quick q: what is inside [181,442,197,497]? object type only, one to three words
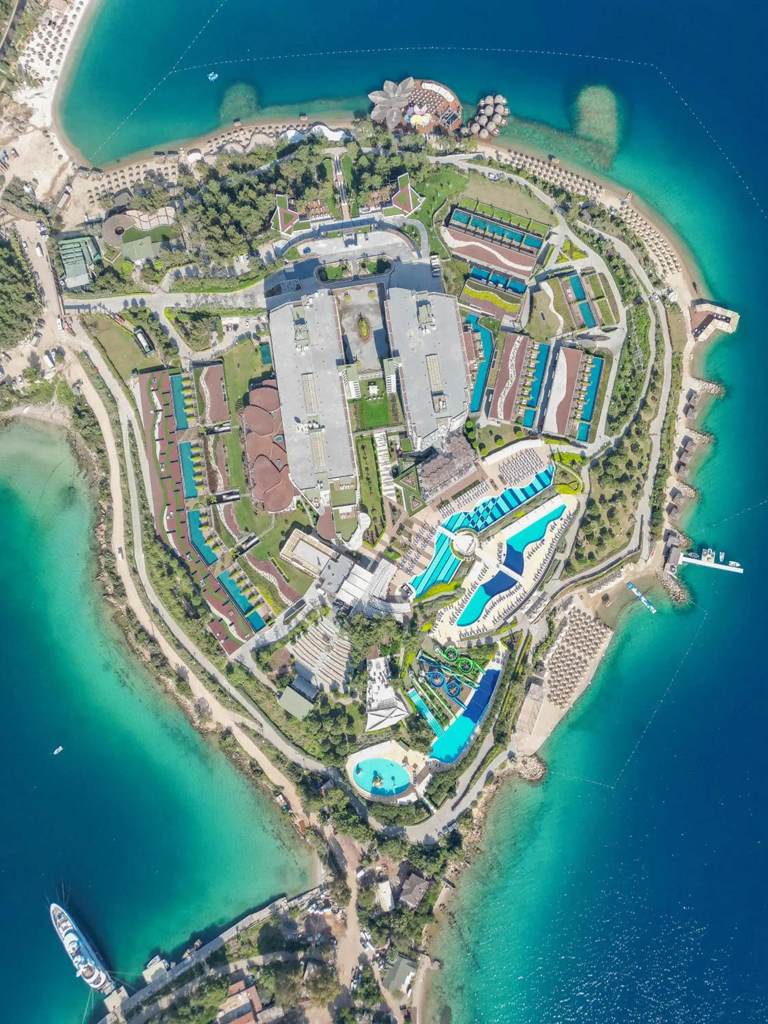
swimming pool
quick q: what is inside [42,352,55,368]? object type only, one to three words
vehicle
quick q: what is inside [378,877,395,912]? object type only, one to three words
house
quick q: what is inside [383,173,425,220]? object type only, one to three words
building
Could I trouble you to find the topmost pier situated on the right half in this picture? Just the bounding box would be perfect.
[690,303,740,343]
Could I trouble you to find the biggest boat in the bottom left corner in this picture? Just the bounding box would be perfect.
[46,882,137,1022]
